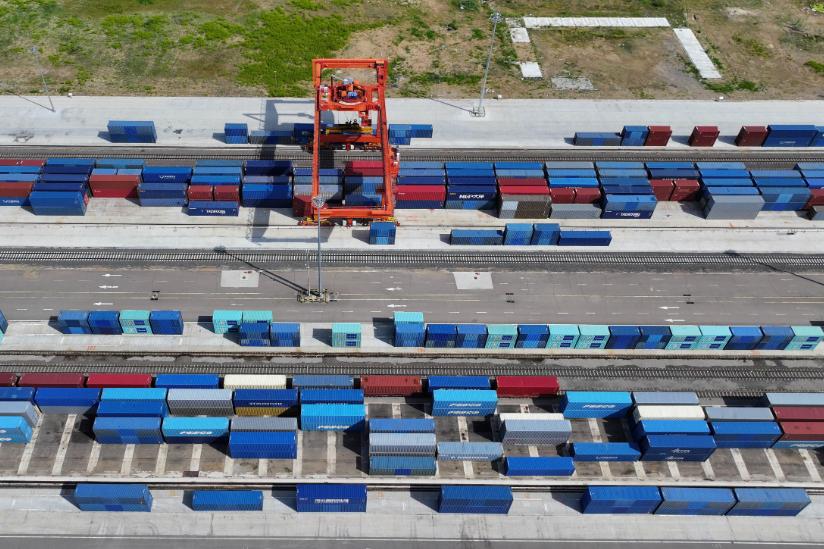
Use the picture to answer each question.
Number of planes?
0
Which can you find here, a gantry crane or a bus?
gantry crane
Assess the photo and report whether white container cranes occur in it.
No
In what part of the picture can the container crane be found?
top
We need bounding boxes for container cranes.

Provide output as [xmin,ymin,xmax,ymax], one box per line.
[298,57,402,228]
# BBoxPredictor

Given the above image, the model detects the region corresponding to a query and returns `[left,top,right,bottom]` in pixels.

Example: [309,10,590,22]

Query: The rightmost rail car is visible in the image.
[492,384,563,397]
